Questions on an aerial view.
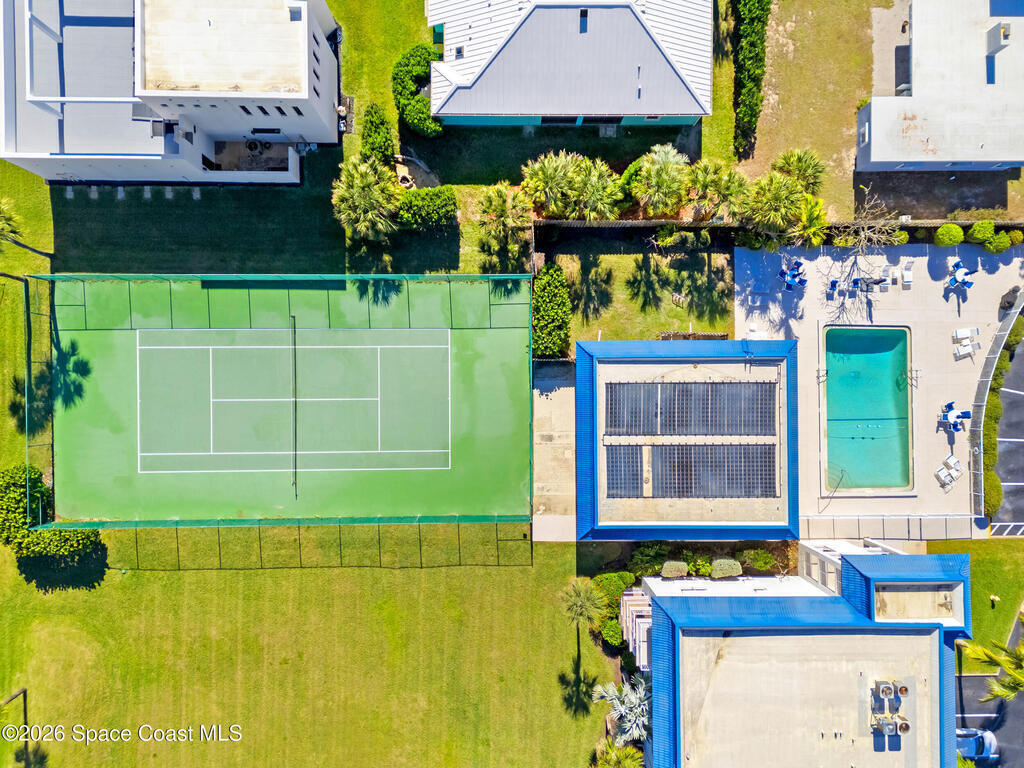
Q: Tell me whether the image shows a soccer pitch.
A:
No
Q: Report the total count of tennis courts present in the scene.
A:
1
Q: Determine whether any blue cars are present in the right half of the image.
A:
Yes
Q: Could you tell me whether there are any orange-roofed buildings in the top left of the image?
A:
No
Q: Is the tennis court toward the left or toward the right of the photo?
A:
left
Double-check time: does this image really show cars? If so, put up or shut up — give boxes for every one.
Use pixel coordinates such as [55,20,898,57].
[956,729,995,763]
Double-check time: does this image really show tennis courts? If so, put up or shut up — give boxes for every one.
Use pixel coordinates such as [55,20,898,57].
[54,280,532,520]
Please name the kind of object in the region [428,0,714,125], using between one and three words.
house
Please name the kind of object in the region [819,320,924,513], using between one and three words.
swimming pool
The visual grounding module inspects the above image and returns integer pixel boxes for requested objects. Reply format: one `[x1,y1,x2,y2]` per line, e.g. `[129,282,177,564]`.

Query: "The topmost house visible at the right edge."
[857,0,1024,170]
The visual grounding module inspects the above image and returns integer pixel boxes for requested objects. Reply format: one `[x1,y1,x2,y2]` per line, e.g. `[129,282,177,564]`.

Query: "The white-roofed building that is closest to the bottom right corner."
[620,537,972,768]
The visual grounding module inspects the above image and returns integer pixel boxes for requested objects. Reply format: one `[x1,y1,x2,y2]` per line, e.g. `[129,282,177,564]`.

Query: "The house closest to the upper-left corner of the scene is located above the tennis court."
[1,0,337,184]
